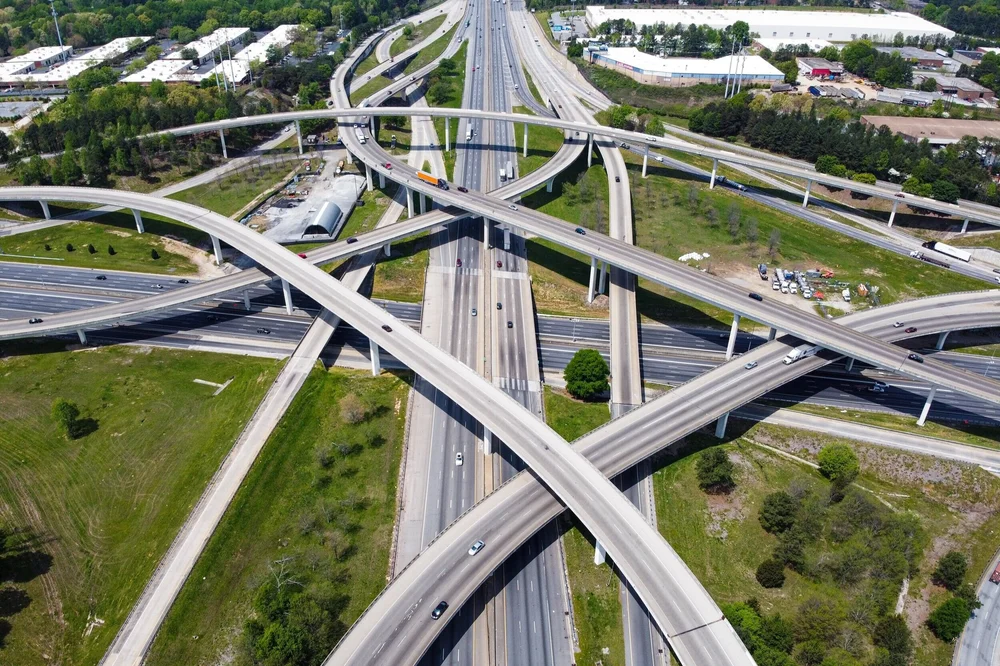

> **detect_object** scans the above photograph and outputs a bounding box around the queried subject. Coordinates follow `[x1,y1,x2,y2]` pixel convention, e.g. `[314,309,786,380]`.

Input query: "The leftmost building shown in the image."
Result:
[0,46,73,74]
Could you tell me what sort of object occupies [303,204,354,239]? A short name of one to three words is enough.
shed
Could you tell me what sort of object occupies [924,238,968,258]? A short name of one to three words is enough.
vehicle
